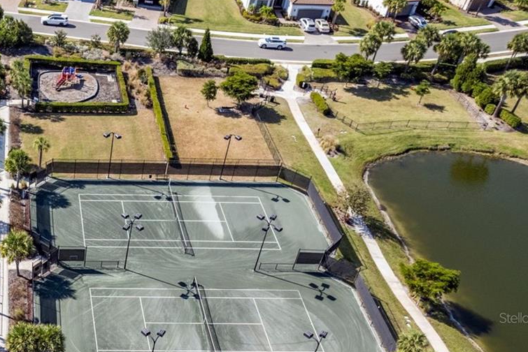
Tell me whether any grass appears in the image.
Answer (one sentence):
Yes, grass can be seen from above here.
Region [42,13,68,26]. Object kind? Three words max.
vehicle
